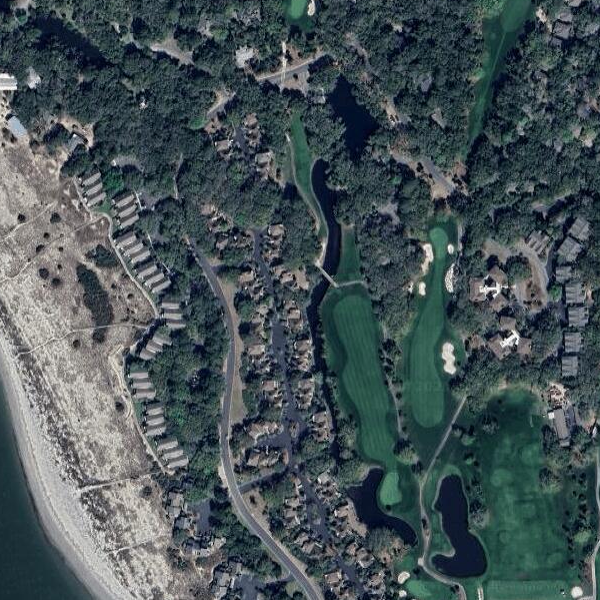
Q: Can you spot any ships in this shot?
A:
No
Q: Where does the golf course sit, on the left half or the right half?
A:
right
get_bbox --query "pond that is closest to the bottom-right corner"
[433,474,486,576]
